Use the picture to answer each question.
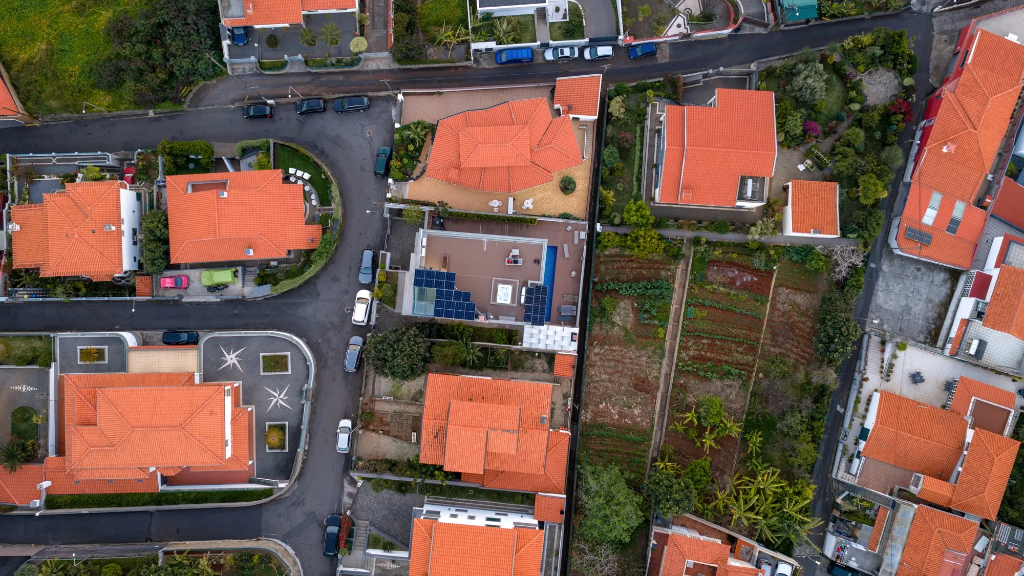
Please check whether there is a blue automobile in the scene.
Yes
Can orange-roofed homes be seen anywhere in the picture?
Yes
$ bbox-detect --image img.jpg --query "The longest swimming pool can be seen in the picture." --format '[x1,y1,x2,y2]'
[545,246,557,322]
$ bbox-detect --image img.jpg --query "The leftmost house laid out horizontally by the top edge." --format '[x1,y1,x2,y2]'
[221,0,359,65]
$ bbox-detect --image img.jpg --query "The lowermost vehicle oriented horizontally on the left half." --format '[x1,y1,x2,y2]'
[161,329,201,345]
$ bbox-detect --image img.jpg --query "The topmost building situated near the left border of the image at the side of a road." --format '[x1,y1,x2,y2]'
[0,57,42,128]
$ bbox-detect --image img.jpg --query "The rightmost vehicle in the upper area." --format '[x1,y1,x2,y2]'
[627,43,657,61]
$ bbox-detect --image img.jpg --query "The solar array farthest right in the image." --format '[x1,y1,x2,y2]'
[905,227,933,246]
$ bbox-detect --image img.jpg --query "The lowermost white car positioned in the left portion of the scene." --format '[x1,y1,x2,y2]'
[336,418,354,452]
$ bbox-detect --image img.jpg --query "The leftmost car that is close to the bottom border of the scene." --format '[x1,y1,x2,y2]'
[322,512,343,557]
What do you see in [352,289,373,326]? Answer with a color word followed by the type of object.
white car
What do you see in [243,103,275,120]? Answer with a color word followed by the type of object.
black car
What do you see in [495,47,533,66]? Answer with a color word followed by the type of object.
blue vehicle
